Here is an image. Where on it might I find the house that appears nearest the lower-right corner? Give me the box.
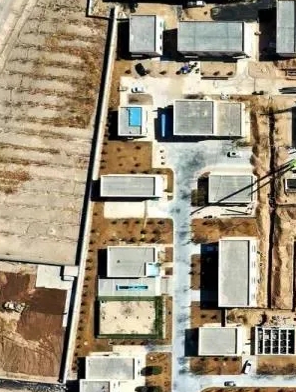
[198,325,242,355]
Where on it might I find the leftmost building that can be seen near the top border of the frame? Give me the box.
[130,15,163,58]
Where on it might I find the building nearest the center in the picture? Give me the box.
[100,175,161,196]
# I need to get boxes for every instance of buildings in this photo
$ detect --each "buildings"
[219,237,257,307]
[106,246,162,277]
[119,106,147,136]
[210,175,257,203]
[177,21,249,57]
[100,175,161,196]
[198,325,242,355]
[98,278,165,295]
[79,355,142,392]
[130,15,163,58]
[63,266,79,277]
[174,100,248,139]
[276,0,296,59]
